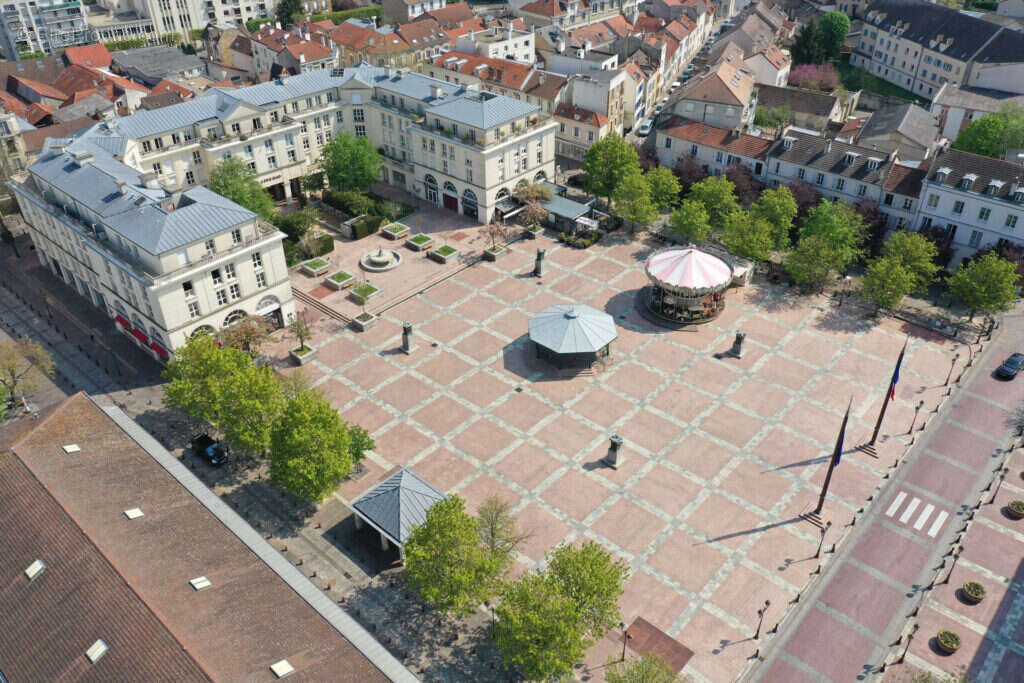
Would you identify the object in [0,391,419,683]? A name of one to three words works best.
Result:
building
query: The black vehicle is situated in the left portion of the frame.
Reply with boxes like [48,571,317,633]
[193,434,226,467]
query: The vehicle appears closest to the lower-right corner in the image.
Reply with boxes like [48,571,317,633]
[997,354,1024,383]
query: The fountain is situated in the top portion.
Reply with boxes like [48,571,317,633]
[361,249,403,272]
